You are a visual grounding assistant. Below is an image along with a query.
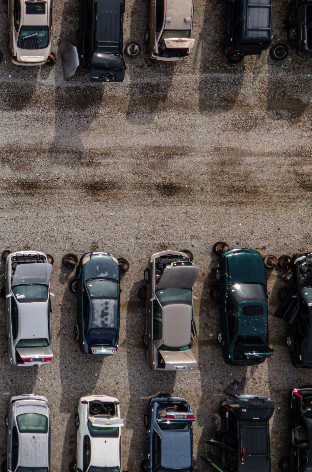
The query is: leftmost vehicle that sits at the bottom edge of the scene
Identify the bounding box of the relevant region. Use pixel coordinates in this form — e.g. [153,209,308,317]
[5,394,56,472]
